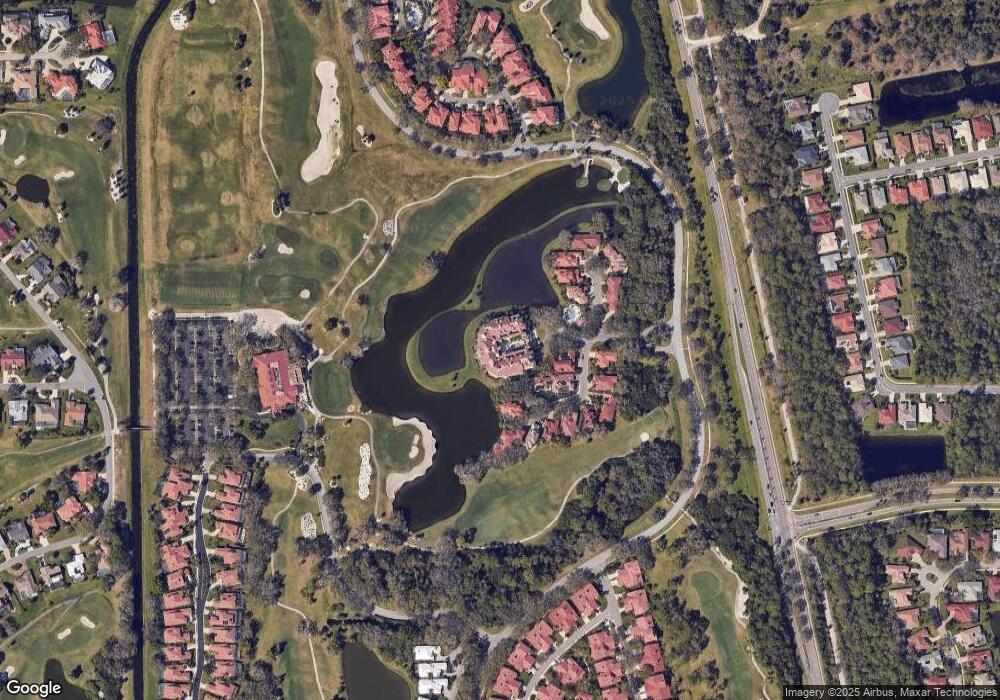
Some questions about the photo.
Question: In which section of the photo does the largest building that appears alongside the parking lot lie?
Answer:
left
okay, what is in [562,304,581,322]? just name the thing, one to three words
swimming pool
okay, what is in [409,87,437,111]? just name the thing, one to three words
house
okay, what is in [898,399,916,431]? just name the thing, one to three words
house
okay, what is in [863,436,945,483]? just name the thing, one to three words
pond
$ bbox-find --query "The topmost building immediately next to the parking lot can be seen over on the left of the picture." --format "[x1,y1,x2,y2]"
[250,350,296,412]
